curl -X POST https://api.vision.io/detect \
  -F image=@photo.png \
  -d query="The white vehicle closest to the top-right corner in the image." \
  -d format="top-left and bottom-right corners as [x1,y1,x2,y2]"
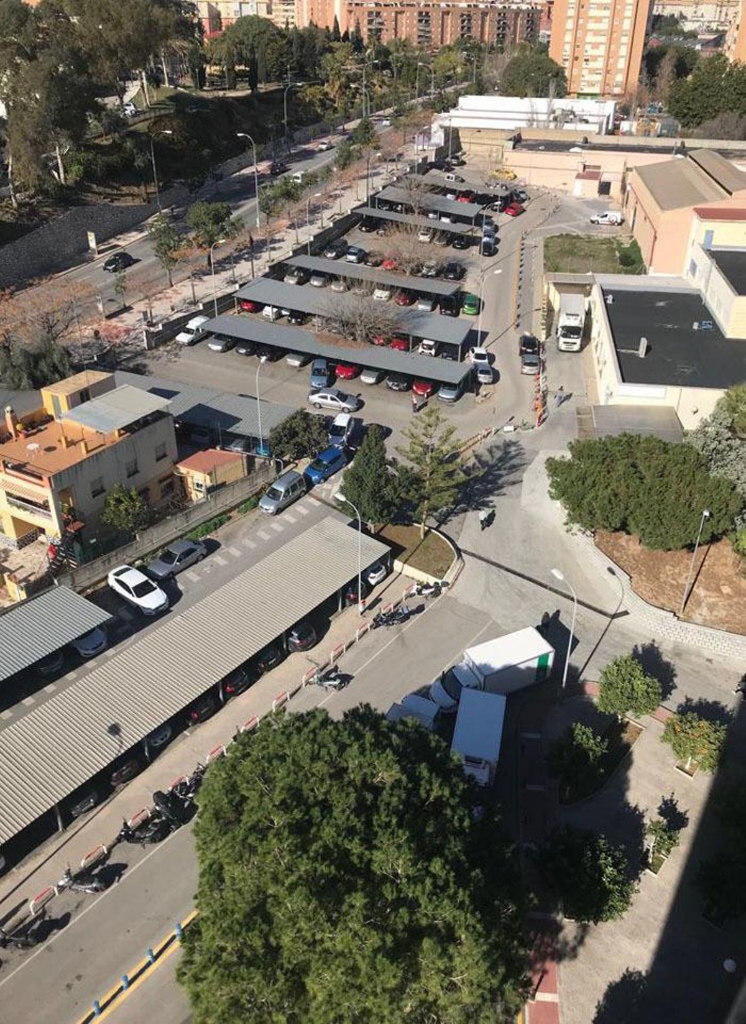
[588,207,626,225]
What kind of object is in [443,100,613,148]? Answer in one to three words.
shed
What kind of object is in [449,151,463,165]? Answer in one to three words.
car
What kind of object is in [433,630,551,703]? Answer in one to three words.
truck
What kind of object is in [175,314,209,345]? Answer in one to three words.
van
